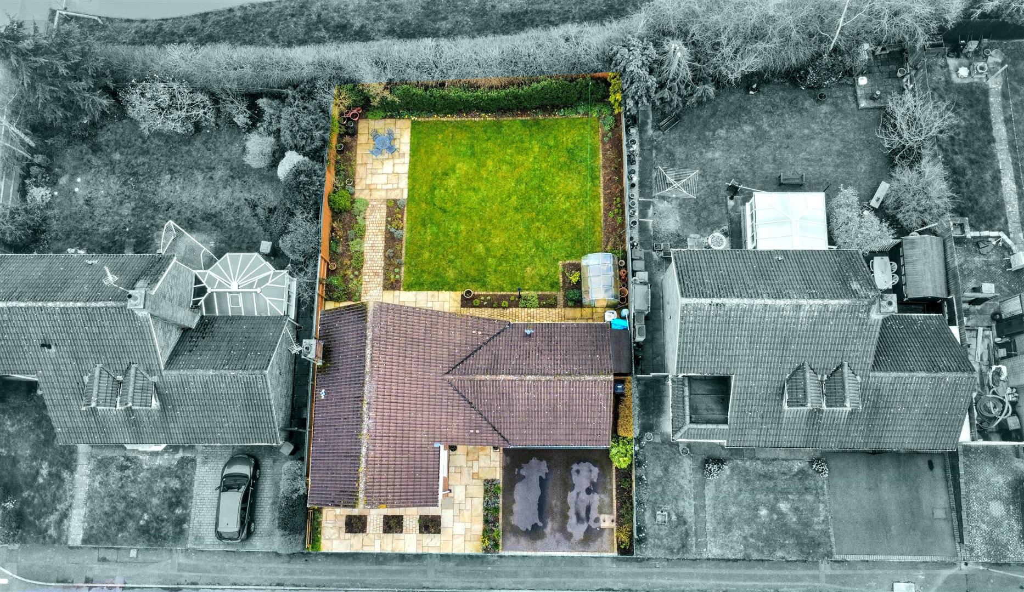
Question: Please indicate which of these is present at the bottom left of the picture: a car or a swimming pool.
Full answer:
It is a car that can be seen at the bottom left of the picture.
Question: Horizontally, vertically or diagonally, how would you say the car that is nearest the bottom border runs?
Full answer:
From this overhead view, the car that is nearest the bottom border appears to run vertically.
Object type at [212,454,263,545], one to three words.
car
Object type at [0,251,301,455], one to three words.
house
